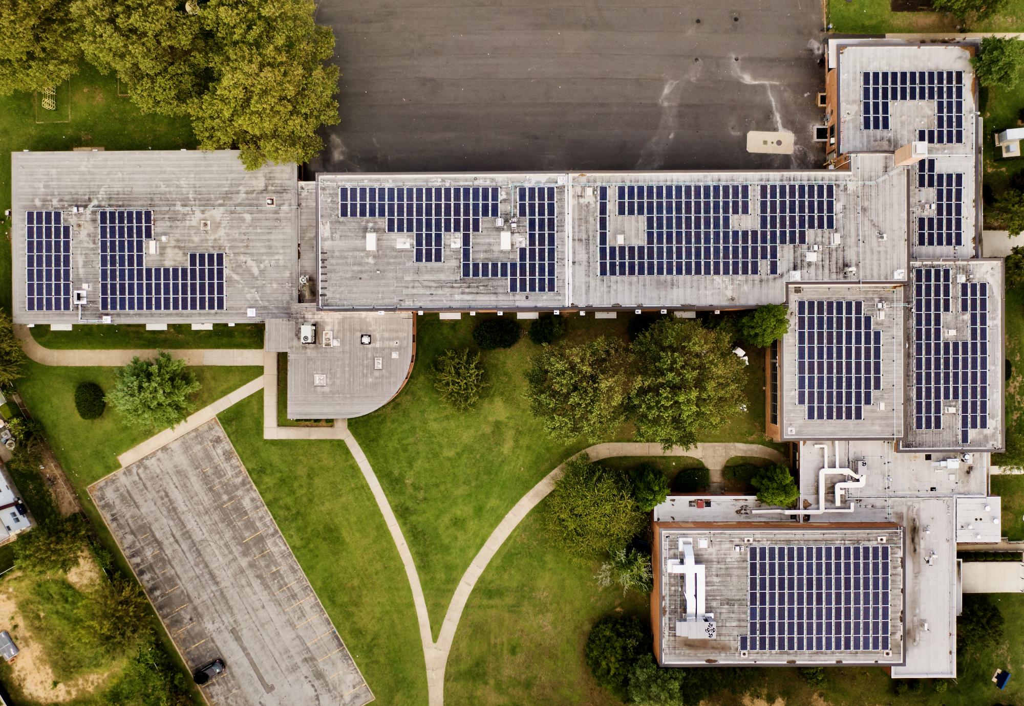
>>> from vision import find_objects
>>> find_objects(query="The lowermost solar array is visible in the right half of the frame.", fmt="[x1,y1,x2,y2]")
[737,546,892,652]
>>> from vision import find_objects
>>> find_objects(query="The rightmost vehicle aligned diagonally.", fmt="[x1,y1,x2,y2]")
[193,657,227,684]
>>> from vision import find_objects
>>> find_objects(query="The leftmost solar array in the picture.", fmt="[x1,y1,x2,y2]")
[24,211,74,311]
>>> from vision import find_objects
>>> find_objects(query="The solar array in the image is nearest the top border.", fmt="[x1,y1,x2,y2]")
[860,71,966,145]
